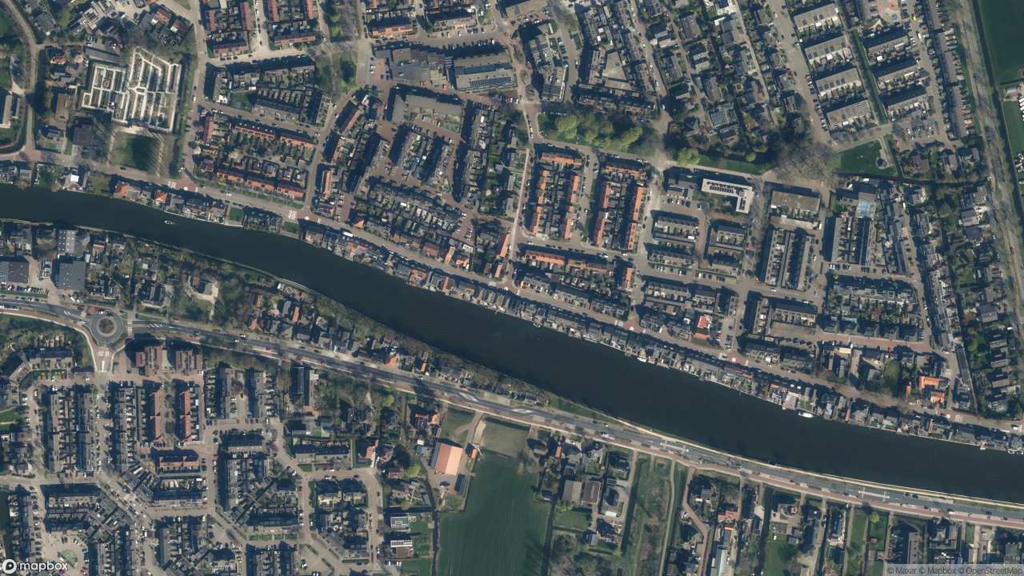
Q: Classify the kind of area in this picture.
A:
residential area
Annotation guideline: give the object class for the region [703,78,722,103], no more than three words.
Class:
house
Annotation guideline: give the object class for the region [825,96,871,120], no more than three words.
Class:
shed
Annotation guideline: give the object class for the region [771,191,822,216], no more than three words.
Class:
building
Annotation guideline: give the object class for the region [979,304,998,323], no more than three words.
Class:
house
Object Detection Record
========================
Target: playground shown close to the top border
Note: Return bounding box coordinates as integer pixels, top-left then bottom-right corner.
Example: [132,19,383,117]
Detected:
[877,0,901,22]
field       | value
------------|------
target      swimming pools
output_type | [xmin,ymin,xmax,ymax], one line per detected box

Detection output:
[855,204,876,218]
